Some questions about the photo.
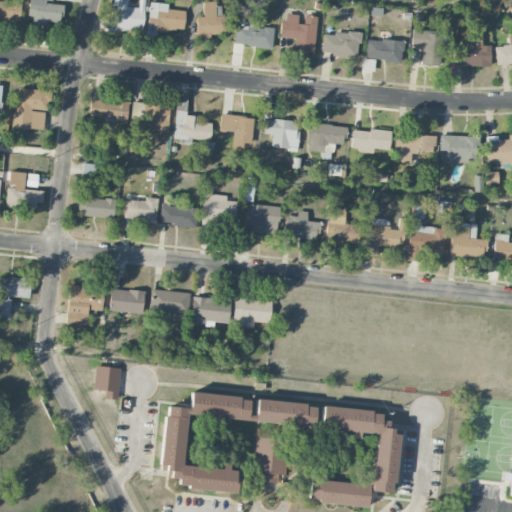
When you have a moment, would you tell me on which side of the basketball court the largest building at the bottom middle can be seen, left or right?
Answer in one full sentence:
Compared with the basketball court, the largest building at the bottom middle is located further to the left.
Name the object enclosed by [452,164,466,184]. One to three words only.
swimming pool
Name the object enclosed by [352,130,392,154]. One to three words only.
house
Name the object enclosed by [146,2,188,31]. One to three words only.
house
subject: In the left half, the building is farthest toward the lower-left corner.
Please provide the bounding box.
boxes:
[95,366,128,400]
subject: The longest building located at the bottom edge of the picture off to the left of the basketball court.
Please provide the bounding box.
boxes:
[161,392,402,494]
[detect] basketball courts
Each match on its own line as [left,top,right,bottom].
[459,396,512,483]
